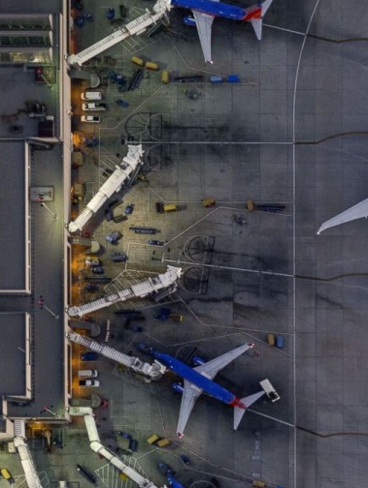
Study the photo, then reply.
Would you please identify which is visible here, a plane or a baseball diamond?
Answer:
plane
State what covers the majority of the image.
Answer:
paved ground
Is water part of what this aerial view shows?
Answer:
No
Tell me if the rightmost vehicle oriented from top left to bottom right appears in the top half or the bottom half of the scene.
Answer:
bottom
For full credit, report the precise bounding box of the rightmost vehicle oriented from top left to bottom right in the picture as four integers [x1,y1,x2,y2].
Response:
[260,377,281,403]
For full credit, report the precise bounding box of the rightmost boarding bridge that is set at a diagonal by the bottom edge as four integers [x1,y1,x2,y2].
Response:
[68,406,177,488]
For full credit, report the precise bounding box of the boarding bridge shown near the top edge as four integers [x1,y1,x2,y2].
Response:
[68,0,181,75]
